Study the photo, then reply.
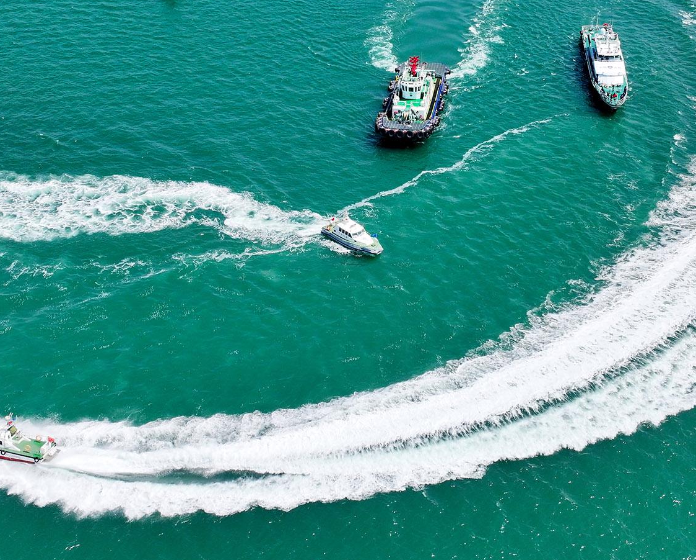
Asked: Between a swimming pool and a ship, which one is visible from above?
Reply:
ship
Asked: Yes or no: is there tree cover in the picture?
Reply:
No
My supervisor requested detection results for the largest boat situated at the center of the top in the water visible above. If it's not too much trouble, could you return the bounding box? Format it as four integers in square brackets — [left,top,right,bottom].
[375,56,451,145]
